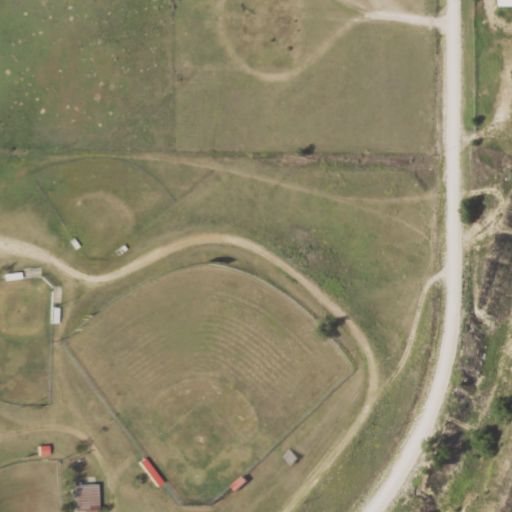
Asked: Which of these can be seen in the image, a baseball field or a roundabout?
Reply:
baseball field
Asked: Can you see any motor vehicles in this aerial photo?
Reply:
No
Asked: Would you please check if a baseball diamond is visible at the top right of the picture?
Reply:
No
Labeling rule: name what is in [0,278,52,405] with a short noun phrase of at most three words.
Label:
baseball field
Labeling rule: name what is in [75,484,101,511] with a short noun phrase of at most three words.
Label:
building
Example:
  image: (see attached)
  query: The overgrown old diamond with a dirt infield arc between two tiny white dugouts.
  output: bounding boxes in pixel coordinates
[34,158,176,259]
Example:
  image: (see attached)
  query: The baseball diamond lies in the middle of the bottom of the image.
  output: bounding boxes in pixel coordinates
[62,264,355,506]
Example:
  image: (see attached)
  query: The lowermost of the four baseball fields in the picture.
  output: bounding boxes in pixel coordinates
[0,460,60,512]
